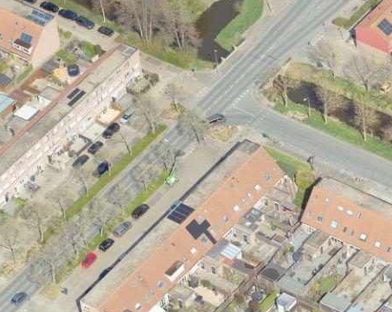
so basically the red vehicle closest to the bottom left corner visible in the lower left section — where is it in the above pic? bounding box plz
[80,253,97,268]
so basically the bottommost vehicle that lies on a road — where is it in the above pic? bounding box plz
[11,290,26,305]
